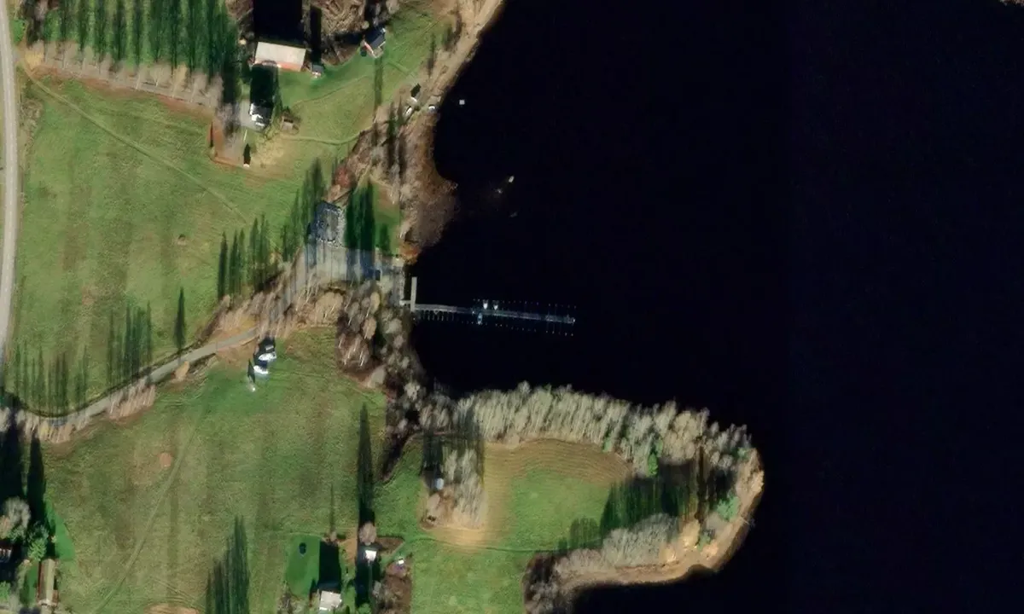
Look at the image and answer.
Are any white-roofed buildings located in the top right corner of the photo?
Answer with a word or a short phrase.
No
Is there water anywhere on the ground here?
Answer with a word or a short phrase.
Yes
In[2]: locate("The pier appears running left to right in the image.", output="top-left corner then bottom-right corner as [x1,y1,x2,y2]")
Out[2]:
[403,276,575,323]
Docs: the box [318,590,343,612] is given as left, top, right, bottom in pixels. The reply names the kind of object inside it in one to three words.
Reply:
building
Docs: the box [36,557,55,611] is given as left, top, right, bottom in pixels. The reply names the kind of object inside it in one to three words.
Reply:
building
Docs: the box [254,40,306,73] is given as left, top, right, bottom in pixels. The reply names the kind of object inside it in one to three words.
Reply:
barn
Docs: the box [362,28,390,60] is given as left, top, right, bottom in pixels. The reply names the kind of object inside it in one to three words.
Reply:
house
